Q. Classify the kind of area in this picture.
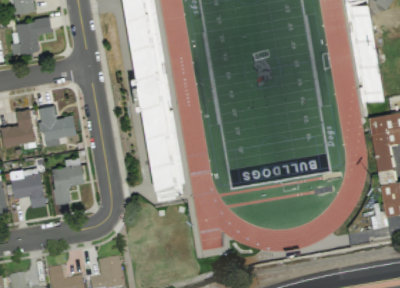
sports ground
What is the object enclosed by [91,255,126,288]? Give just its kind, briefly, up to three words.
house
